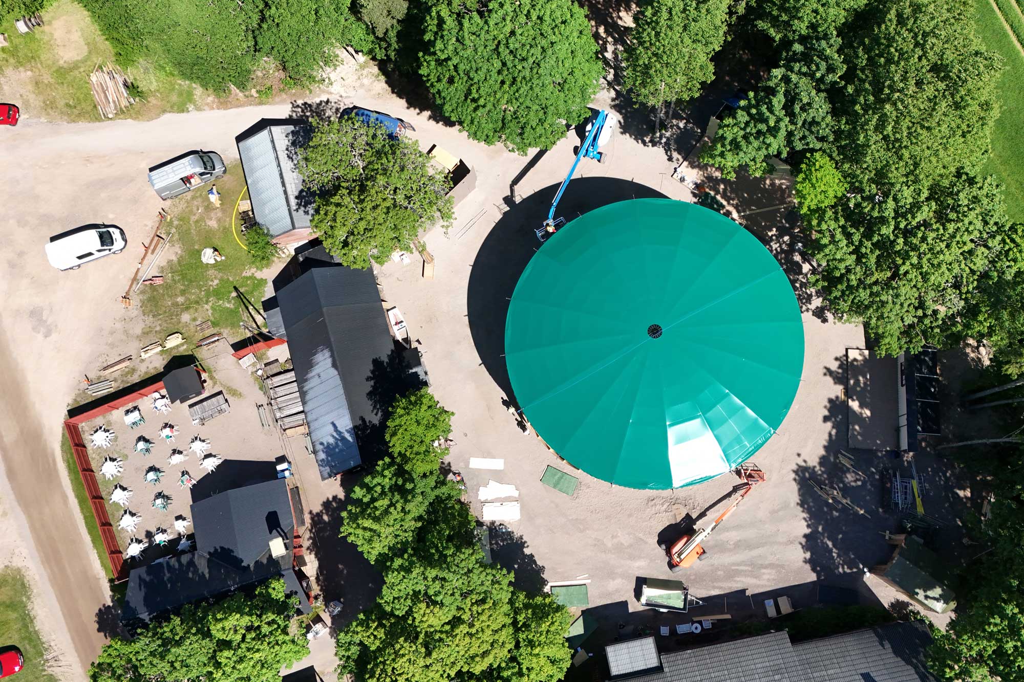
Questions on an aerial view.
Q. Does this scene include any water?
No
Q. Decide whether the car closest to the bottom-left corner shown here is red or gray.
red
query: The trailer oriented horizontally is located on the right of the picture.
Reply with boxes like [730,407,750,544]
[640,578,711,613]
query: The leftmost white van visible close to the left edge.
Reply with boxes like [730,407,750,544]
[43,227,122,270]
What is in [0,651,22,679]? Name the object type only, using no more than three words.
car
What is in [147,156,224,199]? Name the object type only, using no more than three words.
van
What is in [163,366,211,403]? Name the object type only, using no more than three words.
shed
